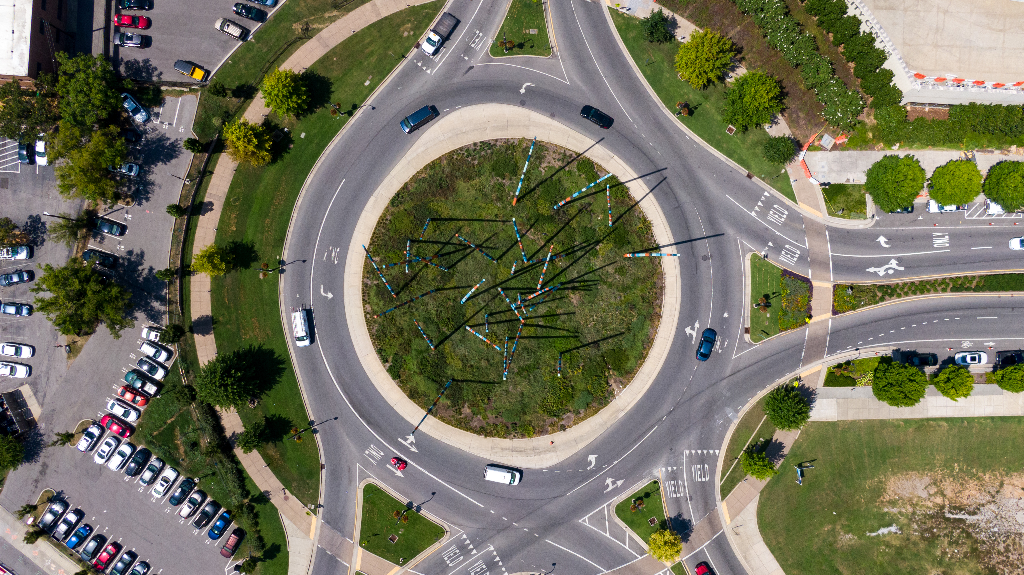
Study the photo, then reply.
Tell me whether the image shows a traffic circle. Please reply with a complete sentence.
Yes, looking at the shot, I can spot a traffic circle.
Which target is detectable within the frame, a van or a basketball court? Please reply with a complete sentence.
Of the two, only a van appears.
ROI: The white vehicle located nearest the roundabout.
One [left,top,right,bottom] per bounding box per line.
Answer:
[483,465,521,484]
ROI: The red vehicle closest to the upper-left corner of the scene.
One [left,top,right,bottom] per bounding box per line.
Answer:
[116,14,149,29]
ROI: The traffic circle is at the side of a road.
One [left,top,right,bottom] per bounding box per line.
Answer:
[344,103,681,469]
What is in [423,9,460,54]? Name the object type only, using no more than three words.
truck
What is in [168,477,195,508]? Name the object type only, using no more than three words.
car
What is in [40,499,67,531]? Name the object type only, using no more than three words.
car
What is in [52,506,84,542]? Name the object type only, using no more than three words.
truck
